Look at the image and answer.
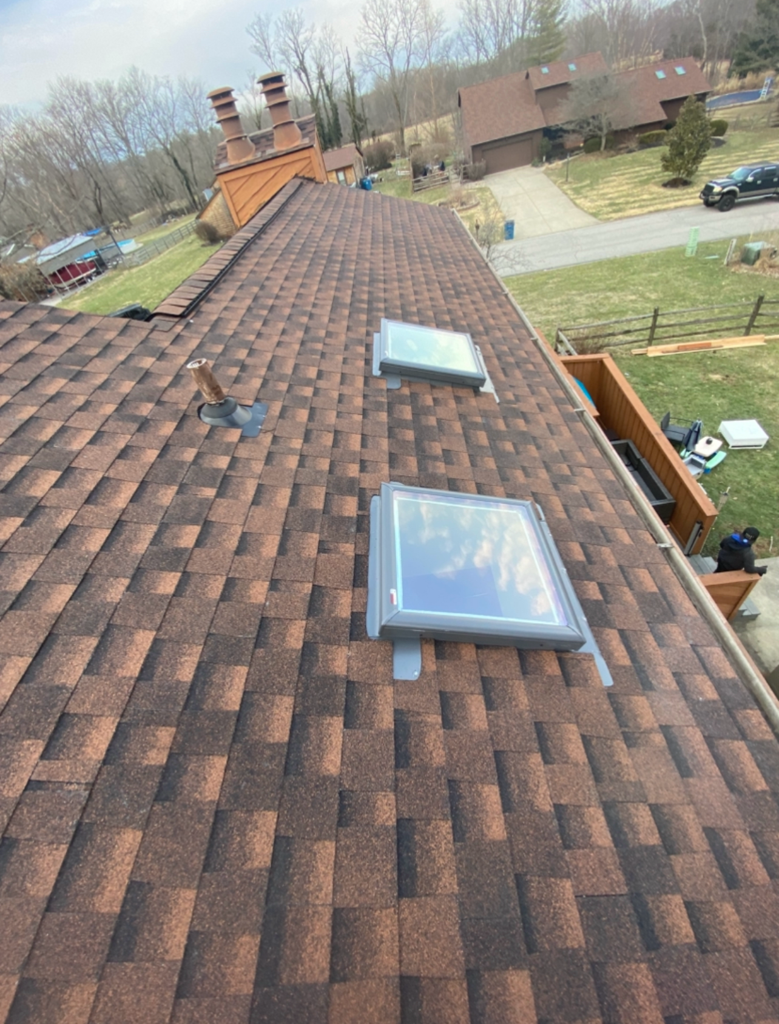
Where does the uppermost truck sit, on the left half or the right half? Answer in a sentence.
It is on the right.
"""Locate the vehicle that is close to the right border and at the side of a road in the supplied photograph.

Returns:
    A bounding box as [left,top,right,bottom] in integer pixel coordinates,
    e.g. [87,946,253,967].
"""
[699,155,779,212]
